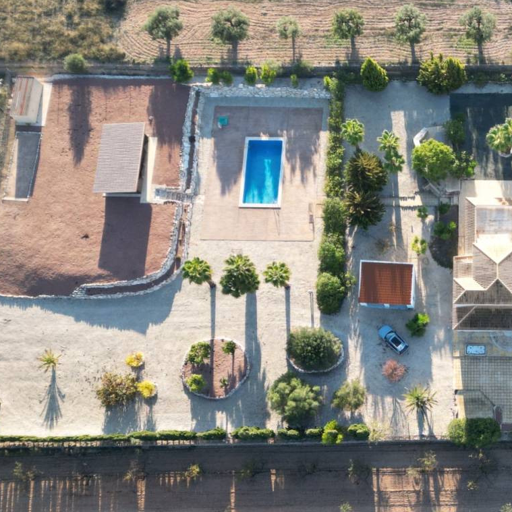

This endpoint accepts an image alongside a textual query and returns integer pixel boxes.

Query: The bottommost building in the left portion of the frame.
[93,123,153,204]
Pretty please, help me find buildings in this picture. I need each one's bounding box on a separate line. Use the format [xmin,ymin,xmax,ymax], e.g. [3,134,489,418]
[453,196,512,335]
[93,123,153,204]
[11,76,46,129]
[358,259,417,311]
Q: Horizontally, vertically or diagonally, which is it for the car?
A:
diagonally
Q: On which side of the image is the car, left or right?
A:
right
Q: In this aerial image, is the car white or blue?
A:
blue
